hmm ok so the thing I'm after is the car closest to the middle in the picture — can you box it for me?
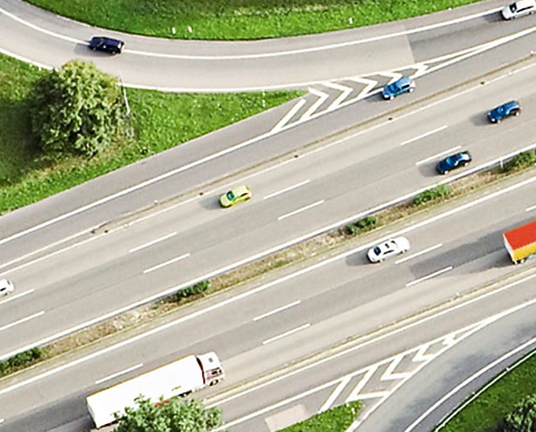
[218,184,253,208]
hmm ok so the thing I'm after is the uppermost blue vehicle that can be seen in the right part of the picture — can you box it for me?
[382,75,415,99]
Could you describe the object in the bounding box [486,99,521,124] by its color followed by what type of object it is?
blue car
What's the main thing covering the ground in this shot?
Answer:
paved ground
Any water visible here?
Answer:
No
